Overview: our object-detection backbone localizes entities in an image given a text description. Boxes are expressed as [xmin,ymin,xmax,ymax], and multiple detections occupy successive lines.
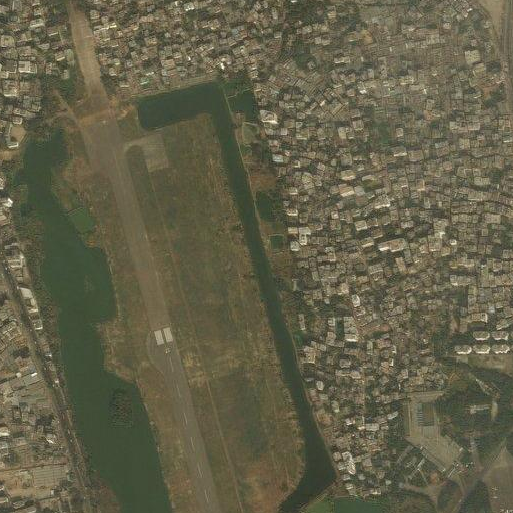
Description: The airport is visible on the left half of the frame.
[52,0,305,513]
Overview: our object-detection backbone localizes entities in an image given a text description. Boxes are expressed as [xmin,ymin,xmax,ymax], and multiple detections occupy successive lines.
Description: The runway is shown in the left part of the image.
[83,119,218,513]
